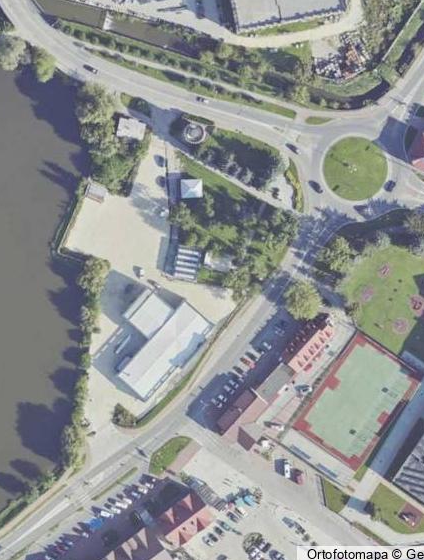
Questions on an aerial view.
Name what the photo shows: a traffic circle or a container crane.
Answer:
traffic circle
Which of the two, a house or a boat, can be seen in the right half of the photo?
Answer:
house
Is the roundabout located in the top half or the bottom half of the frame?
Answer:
top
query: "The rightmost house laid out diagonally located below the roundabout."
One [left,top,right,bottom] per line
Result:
[280,315,338,374]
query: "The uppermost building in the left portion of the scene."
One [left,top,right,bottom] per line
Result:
[115,119,146,139]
